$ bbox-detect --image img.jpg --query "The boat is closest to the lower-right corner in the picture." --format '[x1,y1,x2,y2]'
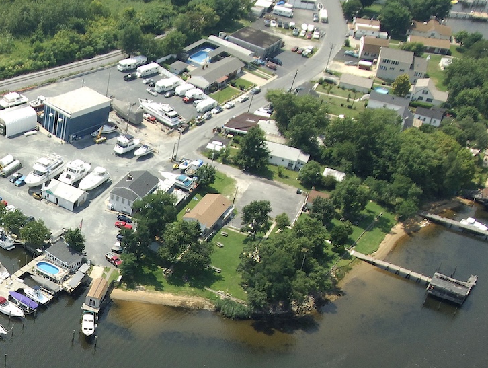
[456,208,488,231]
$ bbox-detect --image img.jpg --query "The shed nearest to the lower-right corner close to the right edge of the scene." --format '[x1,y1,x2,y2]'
[424,272,470,309]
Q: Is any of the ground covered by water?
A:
Yes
